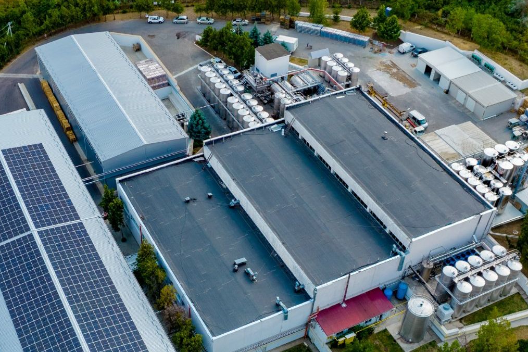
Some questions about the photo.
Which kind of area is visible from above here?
industrial area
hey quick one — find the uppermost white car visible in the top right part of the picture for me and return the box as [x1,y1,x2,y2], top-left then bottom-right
[397,40,419,52]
